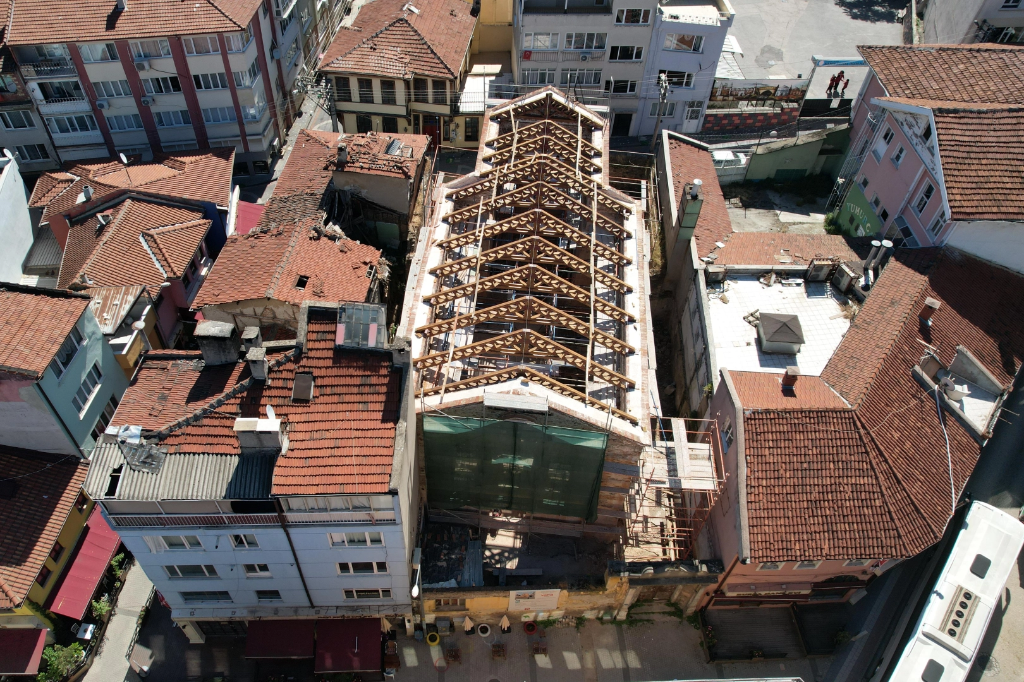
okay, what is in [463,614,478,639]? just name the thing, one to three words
umbrella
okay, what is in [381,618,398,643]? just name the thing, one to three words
umbrella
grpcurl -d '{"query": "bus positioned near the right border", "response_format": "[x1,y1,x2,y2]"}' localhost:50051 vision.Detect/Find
[863,502,1023,682]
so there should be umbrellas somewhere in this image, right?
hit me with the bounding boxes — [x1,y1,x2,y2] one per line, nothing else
[463,614,478,639]
[381,618,398,643]
[499,613,515,638]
